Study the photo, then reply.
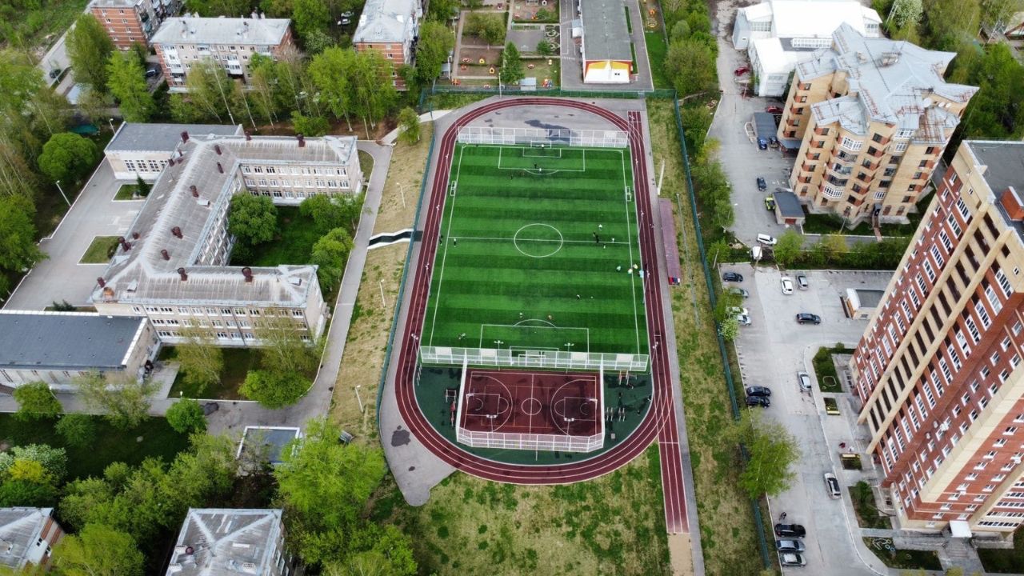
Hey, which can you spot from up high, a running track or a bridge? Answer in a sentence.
I can see a running track in this picture.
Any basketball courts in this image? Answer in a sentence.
Yes, the frame does contain a basketball court.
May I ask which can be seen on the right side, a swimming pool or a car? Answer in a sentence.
Looking on the right side, you will find a car.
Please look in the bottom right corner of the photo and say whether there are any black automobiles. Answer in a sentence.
Yes, there is a black automobile in the bottom right corner of the photo.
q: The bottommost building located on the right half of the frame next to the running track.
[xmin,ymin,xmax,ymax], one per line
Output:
[842,136,1024,570]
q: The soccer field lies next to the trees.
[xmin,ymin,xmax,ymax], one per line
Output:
[418,142,650,371]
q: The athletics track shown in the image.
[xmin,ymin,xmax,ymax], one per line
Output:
[398,99,669,483]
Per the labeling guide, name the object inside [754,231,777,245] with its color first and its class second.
white car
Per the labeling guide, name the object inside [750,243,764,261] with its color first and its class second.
white car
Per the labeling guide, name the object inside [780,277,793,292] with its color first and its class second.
white vehicle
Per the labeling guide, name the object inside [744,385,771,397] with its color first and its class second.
black vehicle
